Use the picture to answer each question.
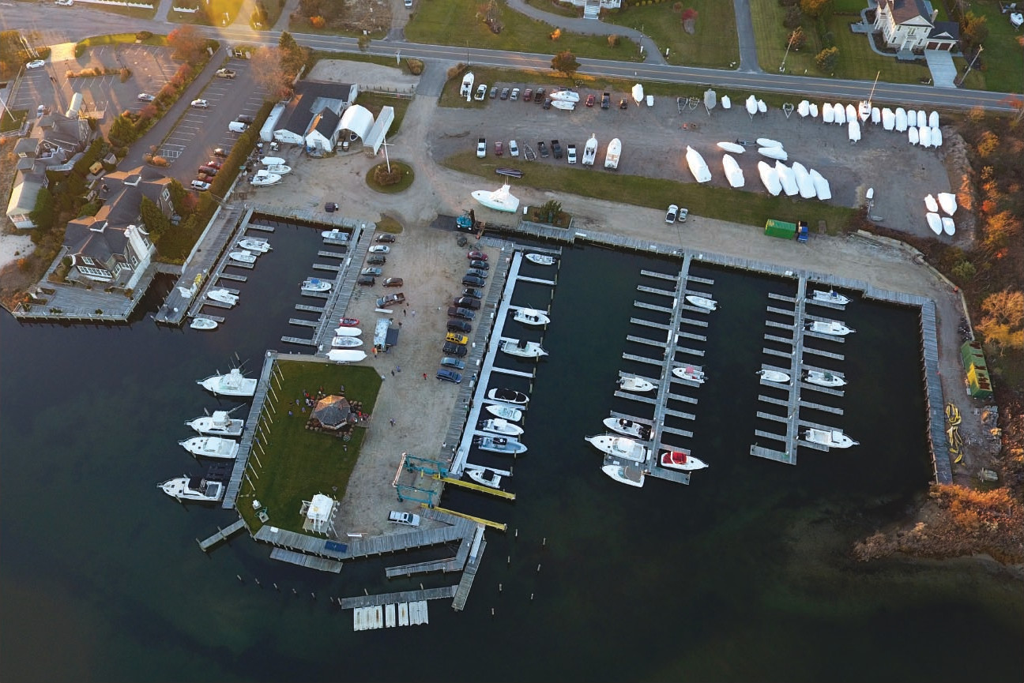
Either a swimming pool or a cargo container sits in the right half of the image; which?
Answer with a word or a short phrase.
cargo container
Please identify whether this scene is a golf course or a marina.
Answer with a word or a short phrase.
marina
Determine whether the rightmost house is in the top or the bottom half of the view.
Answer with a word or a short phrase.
top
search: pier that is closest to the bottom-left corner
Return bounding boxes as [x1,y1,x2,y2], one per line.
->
[199,519,245,551]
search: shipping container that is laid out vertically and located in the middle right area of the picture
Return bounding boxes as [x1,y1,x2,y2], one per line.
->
[961,342,993,399]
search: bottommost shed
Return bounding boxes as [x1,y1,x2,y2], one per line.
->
[298,486,338,533]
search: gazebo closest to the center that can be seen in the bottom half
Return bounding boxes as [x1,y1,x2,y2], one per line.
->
[313,394,346,429]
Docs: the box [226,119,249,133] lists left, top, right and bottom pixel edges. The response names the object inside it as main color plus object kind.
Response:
white vehicle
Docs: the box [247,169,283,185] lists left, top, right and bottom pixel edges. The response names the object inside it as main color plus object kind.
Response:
white boat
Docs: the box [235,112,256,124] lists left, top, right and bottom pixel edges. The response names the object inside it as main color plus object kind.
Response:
gray vehicle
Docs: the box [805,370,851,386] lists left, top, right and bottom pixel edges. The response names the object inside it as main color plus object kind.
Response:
white boat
